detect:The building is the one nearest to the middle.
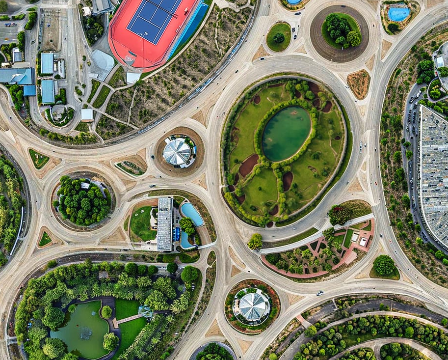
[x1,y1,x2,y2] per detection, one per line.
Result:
[162,138,191,167]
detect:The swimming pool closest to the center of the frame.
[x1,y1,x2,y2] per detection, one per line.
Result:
[181,202,205,227]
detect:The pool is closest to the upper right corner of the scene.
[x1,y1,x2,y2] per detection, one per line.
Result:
[389,7,410,21]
